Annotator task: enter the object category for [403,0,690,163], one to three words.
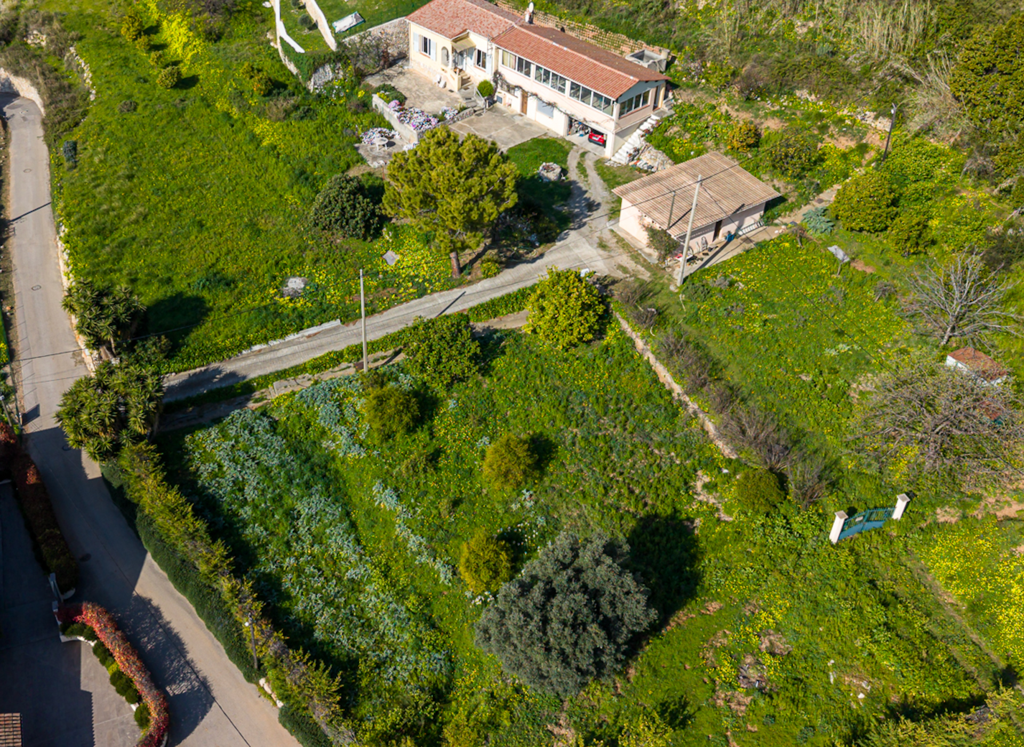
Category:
house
